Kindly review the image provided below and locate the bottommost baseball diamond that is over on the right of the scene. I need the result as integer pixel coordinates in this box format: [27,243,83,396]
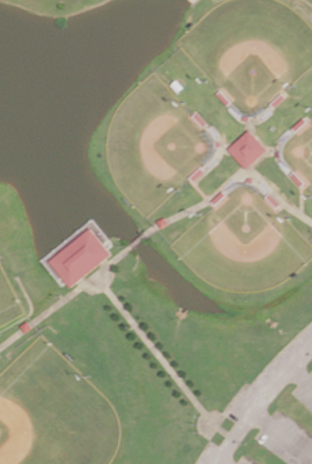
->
[173,188,312,292]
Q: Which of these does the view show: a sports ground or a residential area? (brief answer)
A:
sports ground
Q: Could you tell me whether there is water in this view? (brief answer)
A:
Yes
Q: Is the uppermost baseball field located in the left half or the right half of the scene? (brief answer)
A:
right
